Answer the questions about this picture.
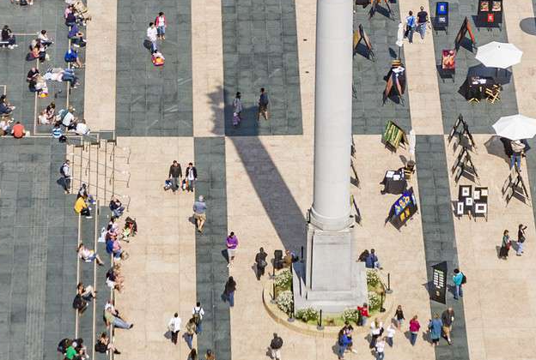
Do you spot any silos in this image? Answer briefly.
No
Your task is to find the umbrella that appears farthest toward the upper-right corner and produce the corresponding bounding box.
[476,43,521,81]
